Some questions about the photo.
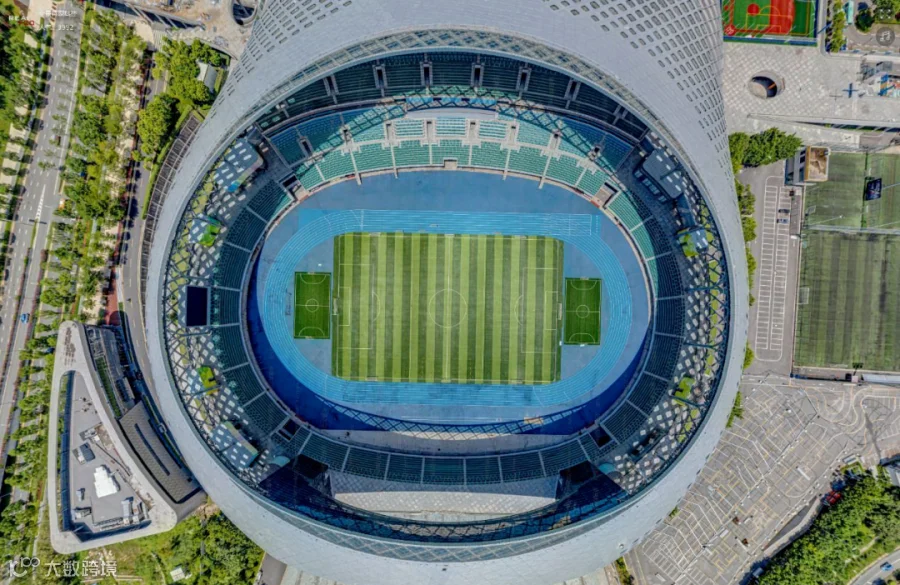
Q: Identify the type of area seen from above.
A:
sports ground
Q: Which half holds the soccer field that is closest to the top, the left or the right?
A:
right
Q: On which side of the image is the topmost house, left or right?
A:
left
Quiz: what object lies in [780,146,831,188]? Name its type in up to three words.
building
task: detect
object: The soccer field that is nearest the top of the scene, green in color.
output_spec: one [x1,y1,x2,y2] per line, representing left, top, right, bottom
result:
[803,152,900,227]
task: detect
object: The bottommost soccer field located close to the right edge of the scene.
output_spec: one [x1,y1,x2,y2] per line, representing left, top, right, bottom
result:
[795,233,900,370]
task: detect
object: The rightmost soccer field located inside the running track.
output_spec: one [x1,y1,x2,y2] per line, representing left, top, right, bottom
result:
[563,278,601,346]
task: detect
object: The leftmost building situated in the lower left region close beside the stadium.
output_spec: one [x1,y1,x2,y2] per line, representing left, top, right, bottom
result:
[49,321,207,553]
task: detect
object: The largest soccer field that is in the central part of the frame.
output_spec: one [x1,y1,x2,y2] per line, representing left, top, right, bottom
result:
[333,233,562,382]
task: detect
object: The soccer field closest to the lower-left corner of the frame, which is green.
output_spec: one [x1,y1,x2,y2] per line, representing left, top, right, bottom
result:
[294,271,331,339]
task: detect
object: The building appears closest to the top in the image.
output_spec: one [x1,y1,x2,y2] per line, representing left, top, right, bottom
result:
[196,61,221,98]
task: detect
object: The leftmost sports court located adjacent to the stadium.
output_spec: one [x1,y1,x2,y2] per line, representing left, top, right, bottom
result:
[719,0,824,47]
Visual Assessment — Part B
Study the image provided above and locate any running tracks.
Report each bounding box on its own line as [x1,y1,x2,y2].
[263,209,633,425]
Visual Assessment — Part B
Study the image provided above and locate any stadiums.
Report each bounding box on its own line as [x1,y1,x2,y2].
[145,0,749,585]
